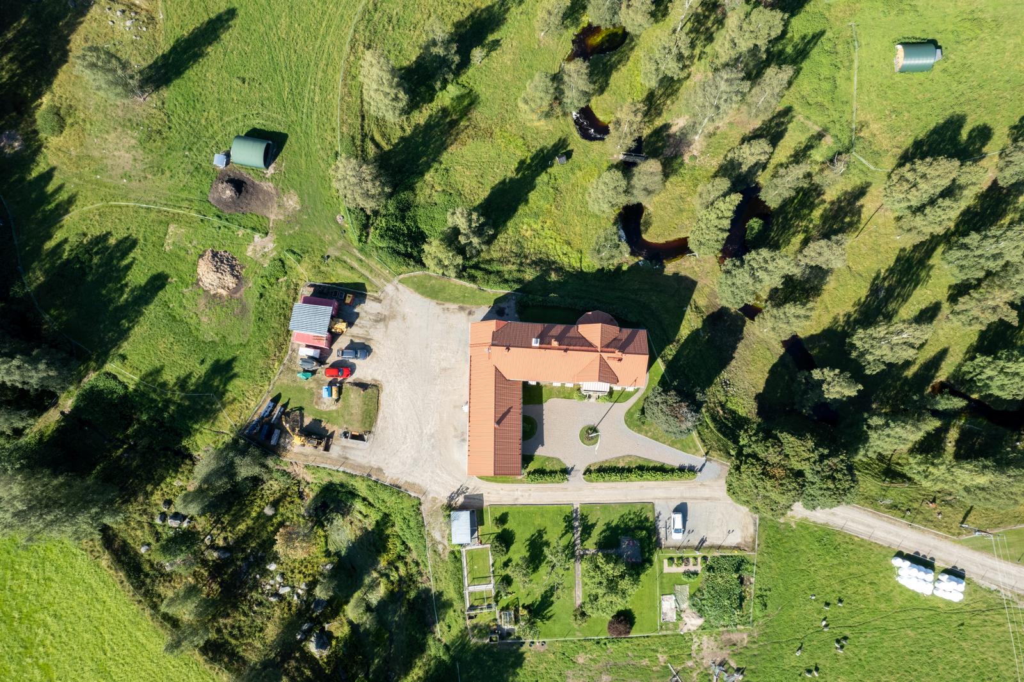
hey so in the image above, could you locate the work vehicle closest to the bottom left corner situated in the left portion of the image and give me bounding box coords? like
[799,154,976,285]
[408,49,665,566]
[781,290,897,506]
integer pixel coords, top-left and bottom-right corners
[287,415,337,453]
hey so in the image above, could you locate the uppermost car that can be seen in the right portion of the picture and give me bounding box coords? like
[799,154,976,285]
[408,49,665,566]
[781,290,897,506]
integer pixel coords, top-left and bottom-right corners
[670,510,685,541]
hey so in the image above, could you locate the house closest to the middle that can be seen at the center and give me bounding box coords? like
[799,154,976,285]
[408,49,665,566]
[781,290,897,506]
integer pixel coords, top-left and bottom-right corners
[462,308,649,477]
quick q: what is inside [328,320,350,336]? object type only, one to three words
work vehicle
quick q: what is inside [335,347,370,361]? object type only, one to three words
car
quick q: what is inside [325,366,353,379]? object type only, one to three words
vehicle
